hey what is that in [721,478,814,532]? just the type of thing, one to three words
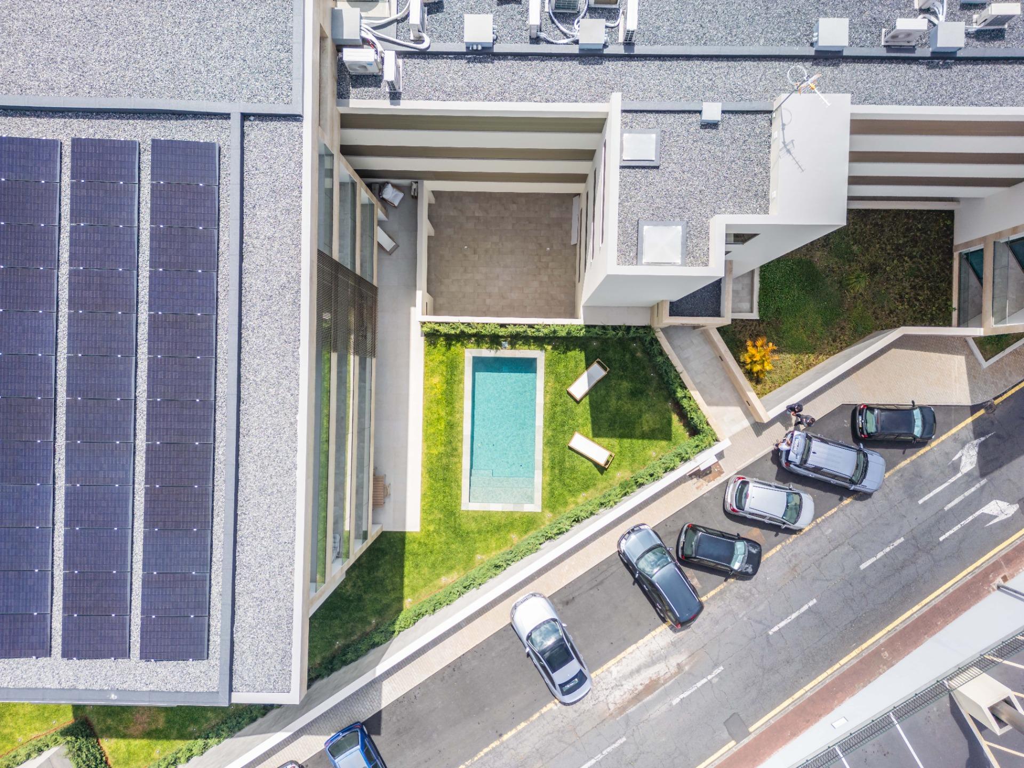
car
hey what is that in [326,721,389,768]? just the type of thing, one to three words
car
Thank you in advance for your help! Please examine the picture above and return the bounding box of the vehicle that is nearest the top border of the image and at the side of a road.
[850,401,933,447]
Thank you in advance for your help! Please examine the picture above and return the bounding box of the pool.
[461,349,545,512]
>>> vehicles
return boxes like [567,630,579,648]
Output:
[618,521,709,630]
[721,478,814,532]
[326,721,389,768]
[783,431,882,496]
[511,588,593,705]
[674,524,761,581]
[850,401,933,447]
